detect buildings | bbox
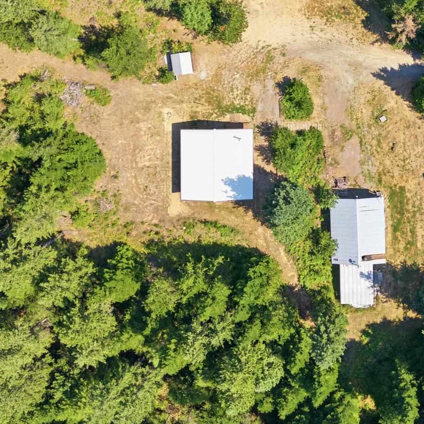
[171,52,196,75]
[181,129,255,201]
[330,196,386,268]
